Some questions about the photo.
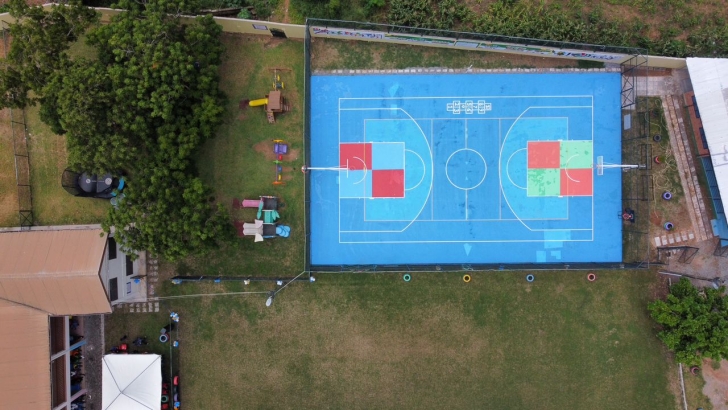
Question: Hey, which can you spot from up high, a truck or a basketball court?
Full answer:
I can see a basketball court in this picture.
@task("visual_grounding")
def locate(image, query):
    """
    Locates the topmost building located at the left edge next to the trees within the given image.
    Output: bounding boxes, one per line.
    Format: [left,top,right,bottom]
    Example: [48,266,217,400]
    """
[0,229,138,315]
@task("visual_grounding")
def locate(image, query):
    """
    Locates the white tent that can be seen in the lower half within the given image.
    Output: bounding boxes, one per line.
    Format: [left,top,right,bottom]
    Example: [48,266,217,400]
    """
[102,346,173,410]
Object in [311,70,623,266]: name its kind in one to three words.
basketball court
